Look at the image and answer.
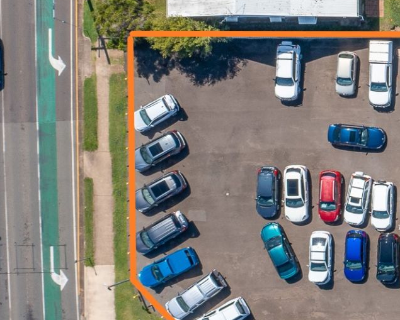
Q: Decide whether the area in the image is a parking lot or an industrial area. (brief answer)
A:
parking lot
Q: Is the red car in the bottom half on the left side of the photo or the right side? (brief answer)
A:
right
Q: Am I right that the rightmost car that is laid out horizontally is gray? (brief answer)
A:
No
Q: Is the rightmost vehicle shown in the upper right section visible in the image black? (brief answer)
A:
No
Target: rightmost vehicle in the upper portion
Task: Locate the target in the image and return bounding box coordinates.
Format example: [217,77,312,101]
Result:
[366,40,394,109]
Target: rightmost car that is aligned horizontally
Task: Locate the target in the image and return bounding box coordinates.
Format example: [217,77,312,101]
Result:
[328,124,388,151]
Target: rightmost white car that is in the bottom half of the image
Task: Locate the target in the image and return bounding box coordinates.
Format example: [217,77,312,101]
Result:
[367,178,395,231]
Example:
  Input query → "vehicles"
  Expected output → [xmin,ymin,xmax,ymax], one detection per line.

[264,222,300,281]
[199,296,251,320]
[139,247,201,289]
[135,130,189,166]
[137,171,189,208]
[133,93,183,131]
[341,231,368,282]
[306,231,334,285]
[253,166,282,218]
[333,51,360,96]
[328,124,388,151]
[374,234,400,285]
[136,211,191,255]
[168,270,228,320]
[341,170,373,227]
[315,171,342,223]
[366,40,394,109]
[282,165,310,223]
[273,41,302,102]
[367,178,395,231]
